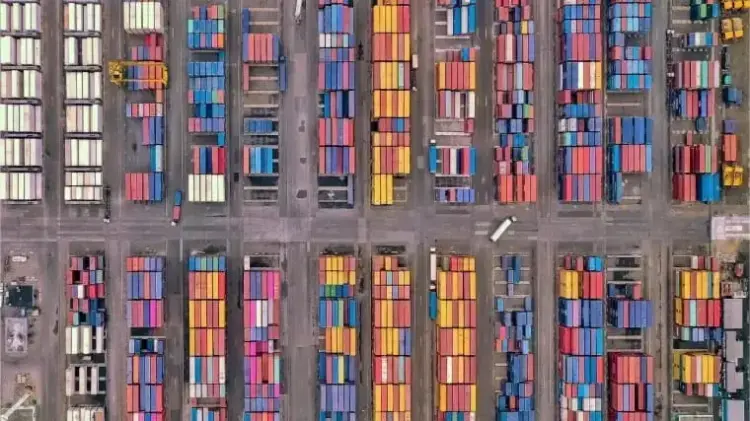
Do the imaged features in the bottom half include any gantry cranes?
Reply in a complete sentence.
No, no gantry crane can be made out in the bottom half.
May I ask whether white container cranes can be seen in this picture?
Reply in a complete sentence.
No, the picture doesn't show any white container crane.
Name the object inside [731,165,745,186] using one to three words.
vehicle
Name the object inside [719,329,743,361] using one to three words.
building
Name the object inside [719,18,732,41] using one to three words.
vehicle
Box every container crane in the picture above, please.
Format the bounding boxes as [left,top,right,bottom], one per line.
[110,62,171,94]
